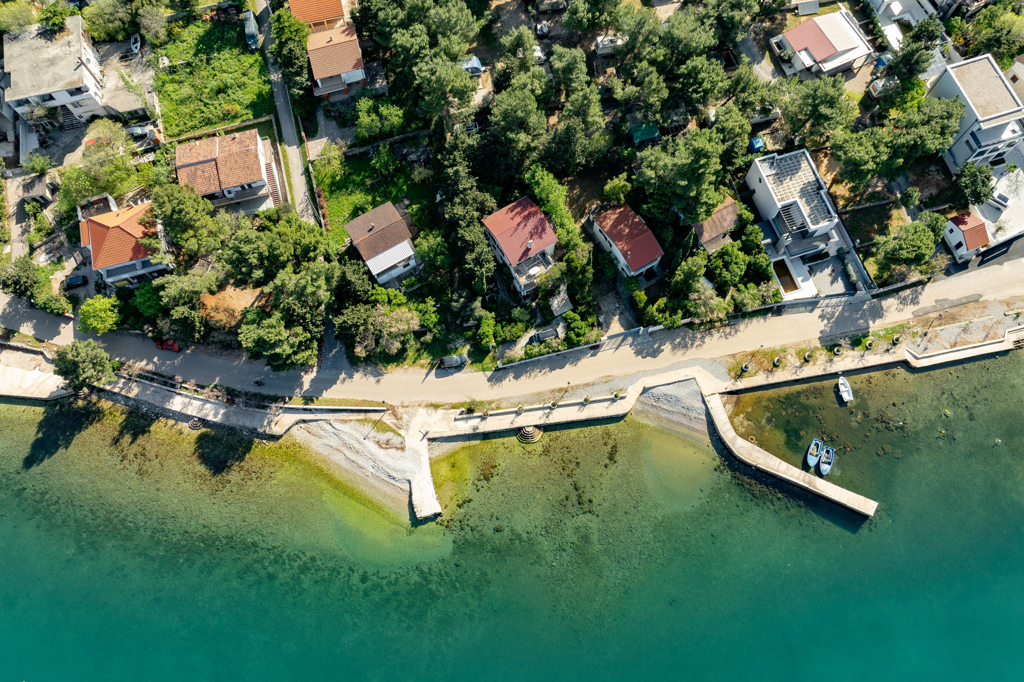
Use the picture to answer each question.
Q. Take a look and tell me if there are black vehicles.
Yes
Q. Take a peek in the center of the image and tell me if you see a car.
Yes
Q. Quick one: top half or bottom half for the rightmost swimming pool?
top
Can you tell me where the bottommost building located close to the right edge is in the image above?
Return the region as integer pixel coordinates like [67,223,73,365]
[936,212,989,266]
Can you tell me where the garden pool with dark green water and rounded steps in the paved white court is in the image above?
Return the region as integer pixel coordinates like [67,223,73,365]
[891,13,918,38]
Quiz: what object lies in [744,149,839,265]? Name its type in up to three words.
house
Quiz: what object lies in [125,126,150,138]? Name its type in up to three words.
vehicle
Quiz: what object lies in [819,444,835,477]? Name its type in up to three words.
boat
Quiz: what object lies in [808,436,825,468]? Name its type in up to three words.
boat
